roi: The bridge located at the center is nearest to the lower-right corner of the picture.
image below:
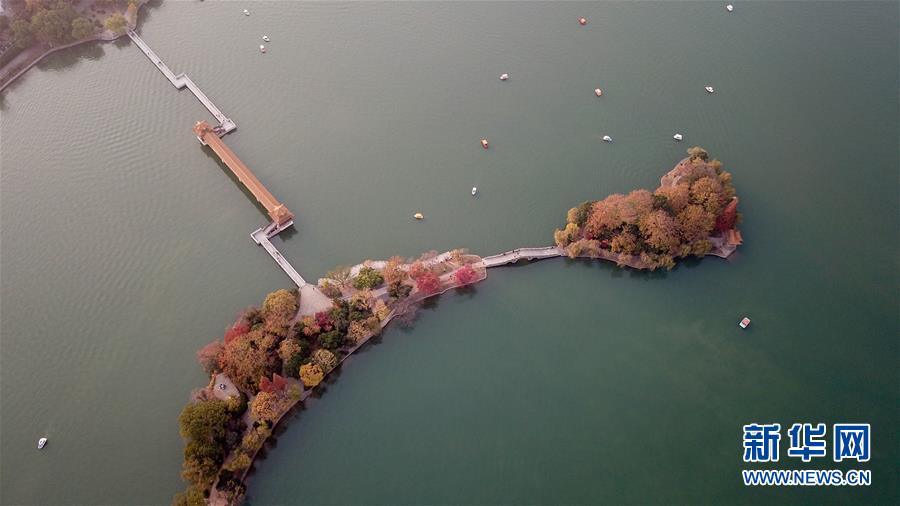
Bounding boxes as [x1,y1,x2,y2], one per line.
[483,245,562,268]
